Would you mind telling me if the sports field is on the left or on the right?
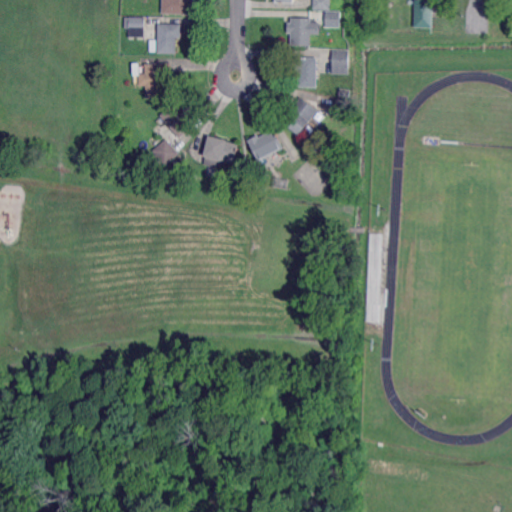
right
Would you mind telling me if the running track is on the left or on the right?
right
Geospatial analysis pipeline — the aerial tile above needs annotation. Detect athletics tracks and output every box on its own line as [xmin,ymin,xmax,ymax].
[381,72,512,446]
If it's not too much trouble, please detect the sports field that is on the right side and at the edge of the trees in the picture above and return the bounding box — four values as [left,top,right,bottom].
[392,82,512,434]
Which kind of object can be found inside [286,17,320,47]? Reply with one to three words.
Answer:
house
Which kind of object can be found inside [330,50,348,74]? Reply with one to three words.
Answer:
building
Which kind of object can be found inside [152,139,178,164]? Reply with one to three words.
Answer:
house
